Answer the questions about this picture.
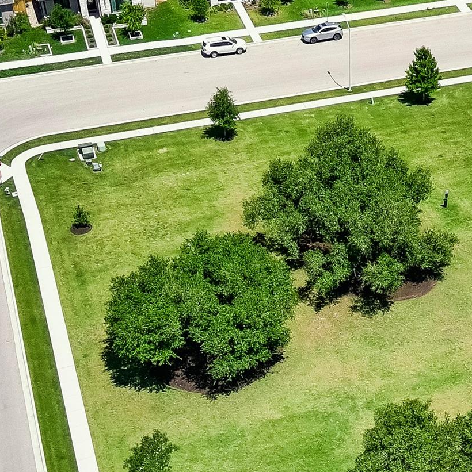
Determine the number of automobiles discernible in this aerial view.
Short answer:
2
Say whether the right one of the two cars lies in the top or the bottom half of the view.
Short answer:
top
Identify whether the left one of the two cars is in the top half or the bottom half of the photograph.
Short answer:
top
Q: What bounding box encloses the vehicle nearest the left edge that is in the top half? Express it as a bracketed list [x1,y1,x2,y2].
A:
[200,35,249,59]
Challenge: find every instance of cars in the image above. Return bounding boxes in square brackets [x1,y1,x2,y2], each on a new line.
[300,20,347,44]
[200,35,249,59]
